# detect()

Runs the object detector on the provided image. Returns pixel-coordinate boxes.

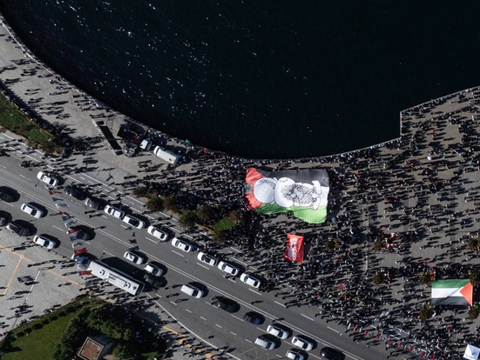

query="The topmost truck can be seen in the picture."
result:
[113,119,155,155]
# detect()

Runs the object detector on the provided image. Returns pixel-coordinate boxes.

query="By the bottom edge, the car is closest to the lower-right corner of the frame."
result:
[320,346,343,360]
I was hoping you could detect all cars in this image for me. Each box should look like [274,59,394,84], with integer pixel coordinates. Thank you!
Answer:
[170,237,194,253]
[196,250,219,268]
[68,226,94,243]
[121,249,147,266]
[20,203,45,219]
[179,284,205,300]
[34,235,57,250]
[121,213,148,232]
[214,297,237,314]
[83,195,104,211]
[217,260,241,277]
[37,170,61,188]
[238,272,263,290]
[0,215,11,228]
[290,335,314,353]
[63,185,89,202]
[143,261,166,278]
[253,335,278,352]
[284,349,306,360]
[320,346,343,360]
[103,203,126,221]
[243,311,265,326]
[266,323,289,340]
[147,224,172,243]
[140,271,166,291]
[6,220,32,238]
[0,187,16,203]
